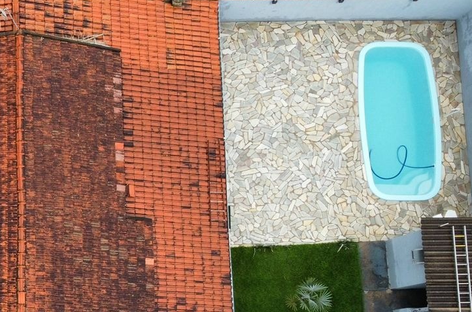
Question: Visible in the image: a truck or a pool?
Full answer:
There is a pool in the scene.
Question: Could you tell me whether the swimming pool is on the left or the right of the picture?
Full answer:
It is on the right.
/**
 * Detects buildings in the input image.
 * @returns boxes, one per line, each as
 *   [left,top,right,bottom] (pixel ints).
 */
[0,0,237,312]
[387,217,472,312]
